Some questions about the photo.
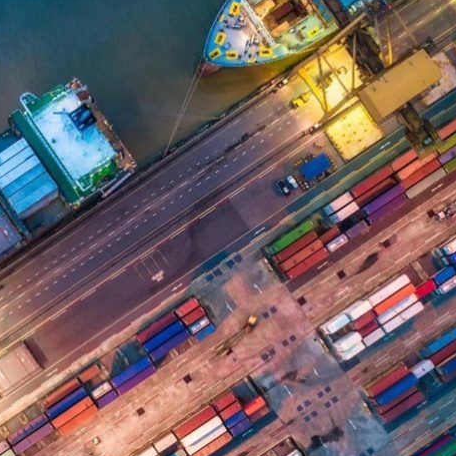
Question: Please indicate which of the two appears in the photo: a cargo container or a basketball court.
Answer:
cargo container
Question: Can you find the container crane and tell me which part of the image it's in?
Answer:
top right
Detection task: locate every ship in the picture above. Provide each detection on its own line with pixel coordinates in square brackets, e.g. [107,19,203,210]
[0,78,134,261]
[199,0,381,73]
